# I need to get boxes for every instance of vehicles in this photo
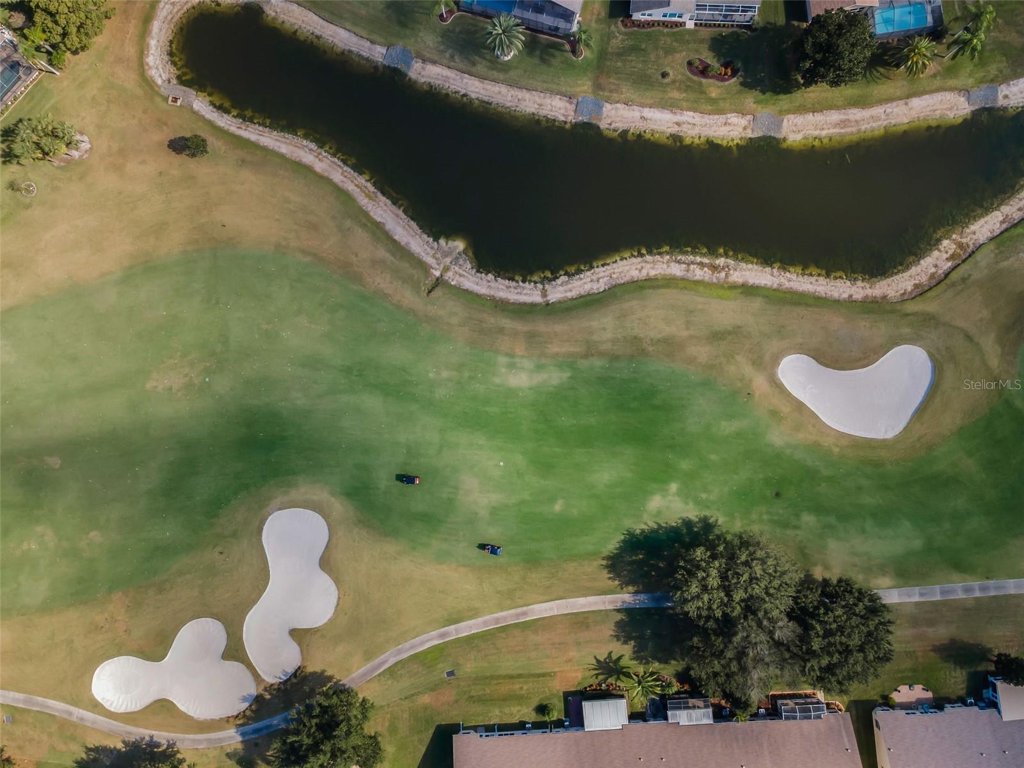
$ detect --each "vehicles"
[483,543,501,556]
[400,475,419,485]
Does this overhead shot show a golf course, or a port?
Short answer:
golf course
